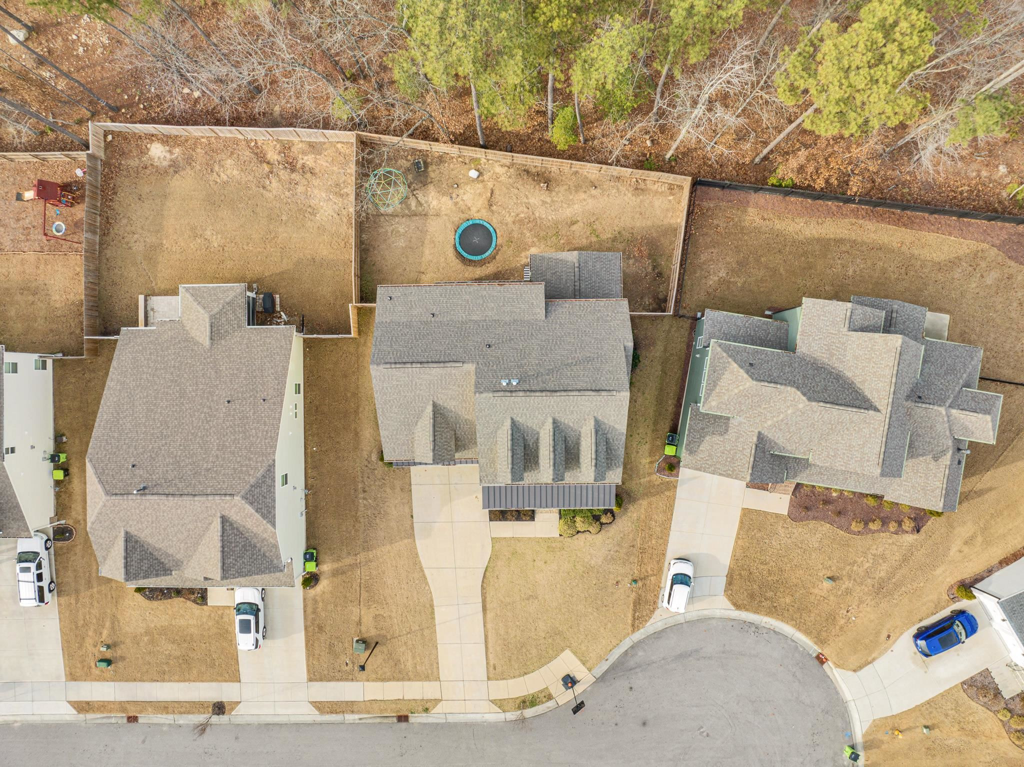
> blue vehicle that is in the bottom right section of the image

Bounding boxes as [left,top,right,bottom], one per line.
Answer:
[914,611,983,660]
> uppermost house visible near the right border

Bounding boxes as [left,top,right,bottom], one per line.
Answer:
[675,296,1005,512]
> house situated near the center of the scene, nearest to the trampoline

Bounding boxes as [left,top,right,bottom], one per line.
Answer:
[370,249,632,511]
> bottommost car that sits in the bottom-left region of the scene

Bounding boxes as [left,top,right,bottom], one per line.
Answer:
[232,588,266,649]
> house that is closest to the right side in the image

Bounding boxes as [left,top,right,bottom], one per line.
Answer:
[976,556,1024,661]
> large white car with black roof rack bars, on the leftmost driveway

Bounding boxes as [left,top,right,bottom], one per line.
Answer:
[14,529,56,601]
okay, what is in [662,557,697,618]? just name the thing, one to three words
car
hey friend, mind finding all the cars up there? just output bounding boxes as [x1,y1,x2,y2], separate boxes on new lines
[914,611,983,660]
[232,588,266,649]
[14,529,56,601]
[662,557,697,618]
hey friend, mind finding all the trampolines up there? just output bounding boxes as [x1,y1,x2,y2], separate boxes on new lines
[455,219,497,260]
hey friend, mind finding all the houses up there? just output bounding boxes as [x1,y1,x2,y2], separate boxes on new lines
[0,344,64,538]
[976,556,1024,661]
[370,249,632,511]
[85,283,313,588]
[675,296,1005,512]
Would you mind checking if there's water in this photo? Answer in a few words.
No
